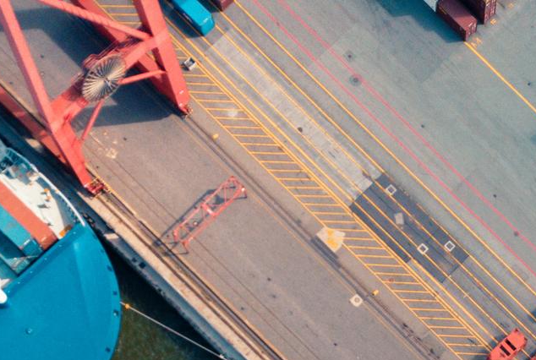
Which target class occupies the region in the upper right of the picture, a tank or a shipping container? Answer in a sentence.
There is a shipping container in the upper right of the picture.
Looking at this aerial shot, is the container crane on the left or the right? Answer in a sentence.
You can find the container crane on the left side of the picture.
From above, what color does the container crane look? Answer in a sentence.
The container crane looks red in the image.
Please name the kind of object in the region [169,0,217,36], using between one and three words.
shipping container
